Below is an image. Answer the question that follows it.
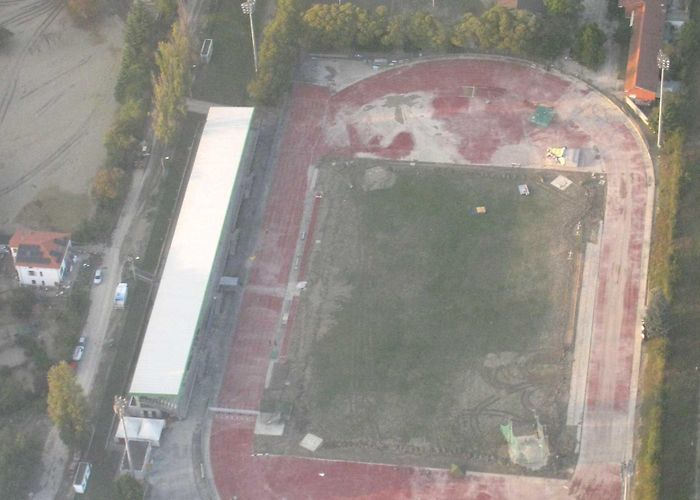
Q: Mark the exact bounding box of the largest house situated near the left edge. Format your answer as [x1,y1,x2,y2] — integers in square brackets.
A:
[13,229,71,286]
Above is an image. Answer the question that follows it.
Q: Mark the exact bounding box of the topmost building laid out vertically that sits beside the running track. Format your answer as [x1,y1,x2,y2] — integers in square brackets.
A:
[621,0,665,109]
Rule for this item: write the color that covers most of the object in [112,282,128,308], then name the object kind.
white vehicle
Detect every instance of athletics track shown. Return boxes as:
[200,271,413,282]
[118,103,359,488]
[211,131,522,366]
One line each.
[201,56,654,500]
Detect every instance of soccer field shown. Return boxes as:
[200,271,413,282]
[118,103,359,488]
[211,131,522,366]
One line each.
[254,161,605,475]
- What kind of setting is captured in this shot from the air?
sports ground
